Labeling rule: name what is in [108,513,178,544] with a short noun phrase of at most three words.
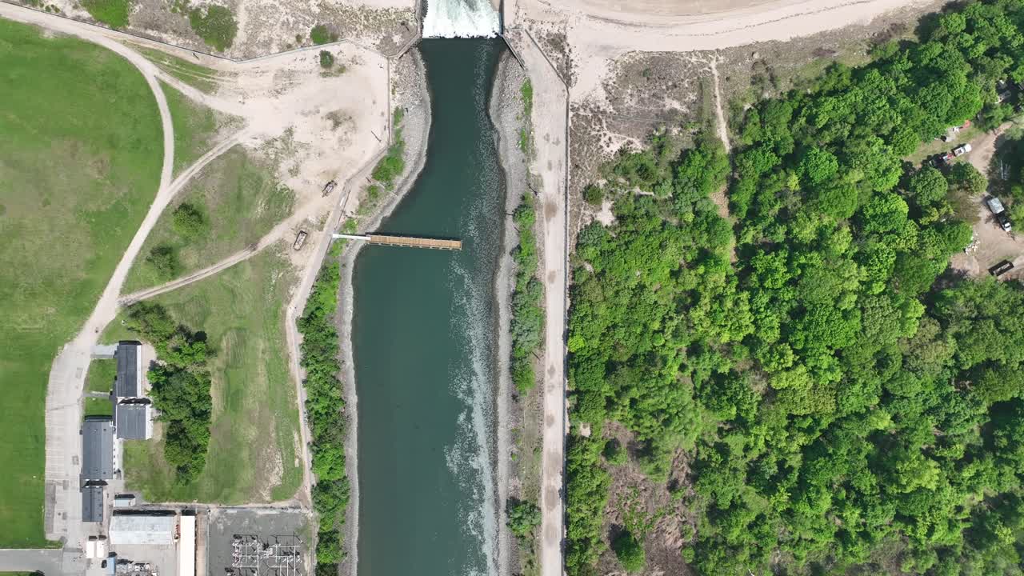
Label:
building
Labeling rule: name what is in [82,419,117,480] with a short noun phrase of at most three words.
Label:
house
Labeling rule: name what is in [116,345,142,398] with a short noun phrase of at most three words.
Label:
house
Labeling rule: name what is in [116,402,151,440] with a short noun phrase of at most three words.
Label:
building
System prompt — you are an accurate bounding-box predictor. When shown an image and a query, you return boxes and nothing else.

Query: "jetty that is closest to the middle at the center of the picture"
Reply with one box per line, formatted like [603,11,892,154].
[365,231,463,251]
